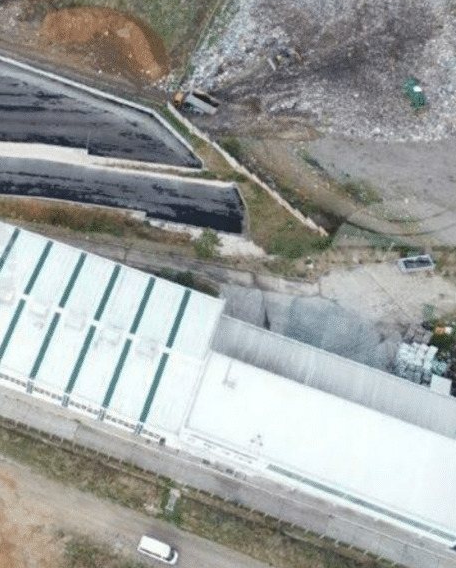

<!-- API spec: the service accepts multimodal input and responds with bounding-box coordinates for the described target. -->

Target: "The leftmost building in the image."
[0,222,224,452]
